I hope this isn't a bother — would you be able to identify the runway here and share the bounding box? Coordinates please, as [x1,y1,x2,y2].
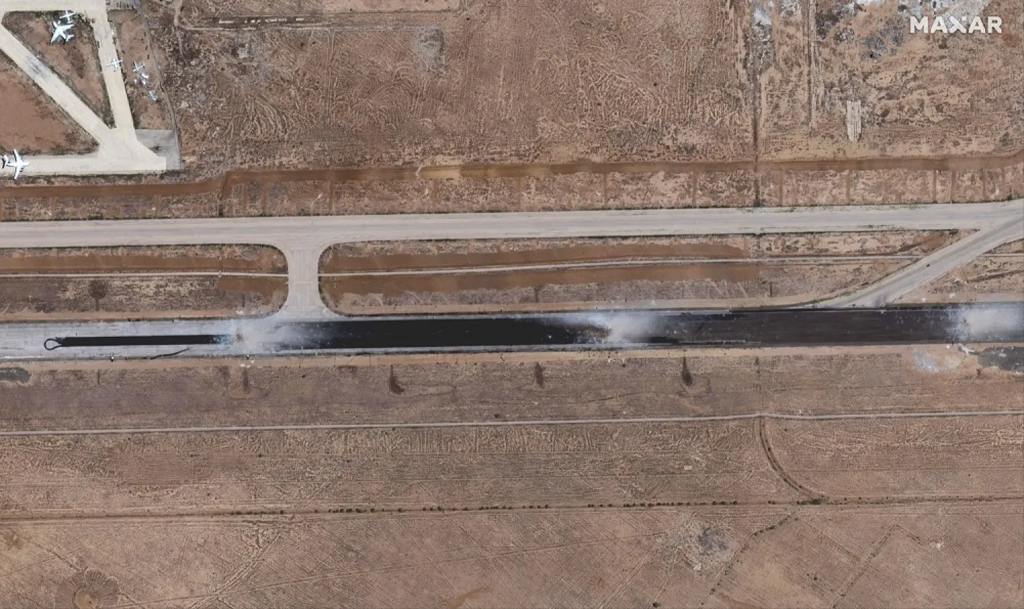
[0,302,1024,361]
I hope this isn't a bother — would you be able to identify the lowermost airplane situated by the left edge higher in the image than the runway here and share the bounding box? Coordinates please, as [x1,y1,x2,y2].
[3,150,31,179]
